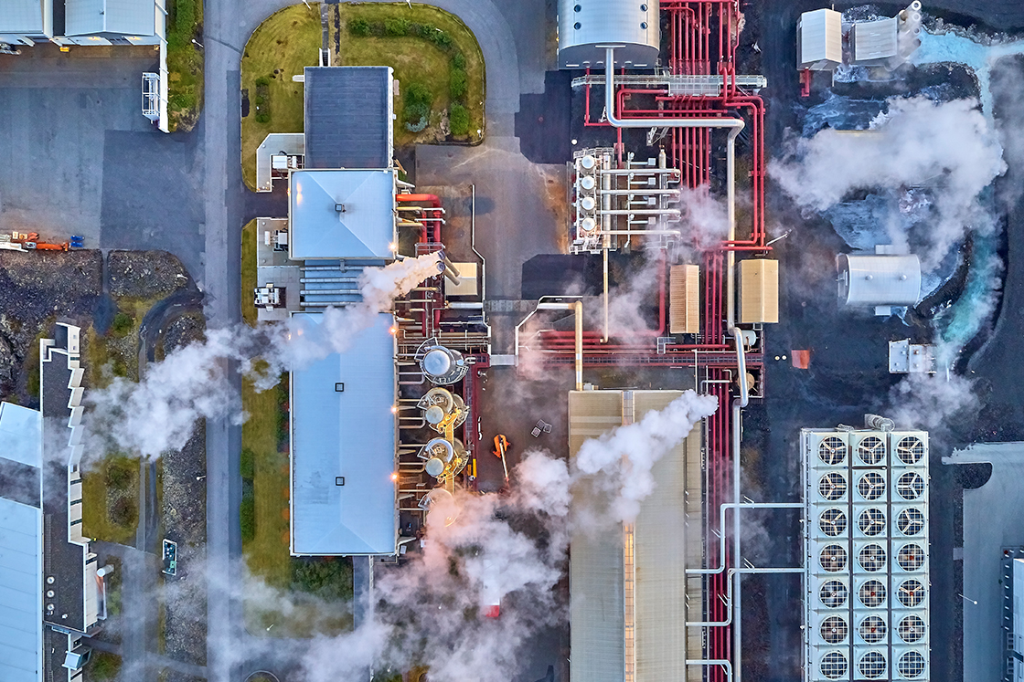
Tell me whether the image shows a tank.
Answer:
Yes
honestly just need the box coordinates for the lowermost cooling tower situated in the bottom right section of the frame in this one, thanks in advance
[801,428,933,682]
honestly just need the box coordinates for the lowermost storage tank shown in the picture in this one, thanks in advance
[416,481,470,532]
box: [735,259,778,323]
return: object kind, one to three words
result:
shed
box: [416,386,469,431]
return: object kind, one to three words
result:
storage tank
